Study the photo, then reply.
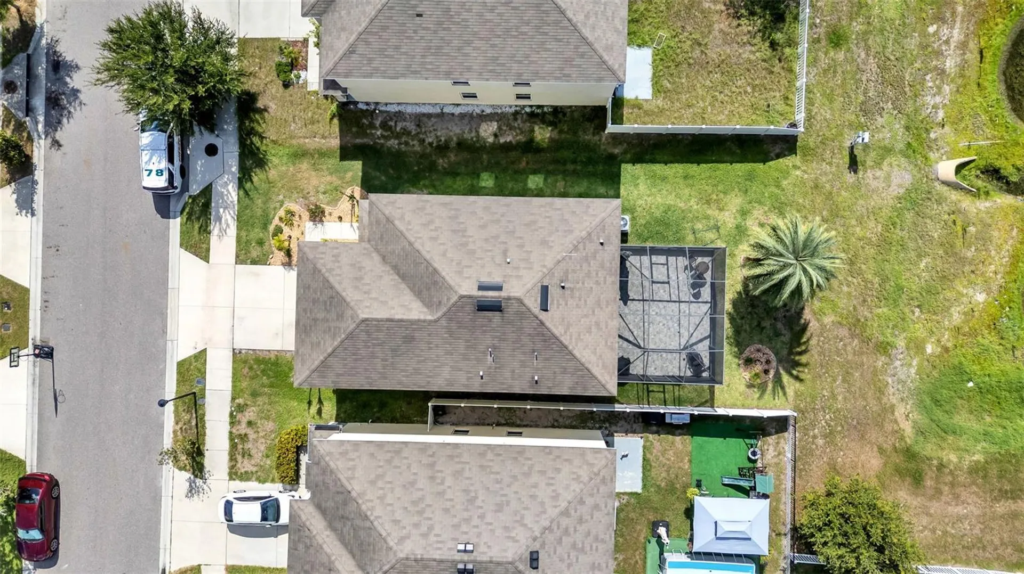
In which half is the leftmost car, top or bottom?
bottom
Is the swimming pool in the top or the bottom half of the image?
bottom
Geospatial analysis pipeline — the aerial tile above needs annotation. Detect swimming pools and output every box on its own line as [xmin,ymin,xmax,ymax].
[656,543,756,574]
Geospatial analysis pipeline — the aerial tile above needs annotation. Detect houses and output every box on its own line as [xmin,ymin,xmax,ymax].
[293,192,624,396]
[299,0,624,112]
[287,414,618,574]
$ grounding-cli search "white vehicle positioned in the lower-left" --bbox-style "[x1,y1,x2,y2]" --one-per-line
[218,487,303,529]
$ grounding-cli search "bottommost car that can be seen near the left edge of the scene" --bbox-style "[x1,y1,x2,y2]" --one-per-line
[15,473,64,561]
